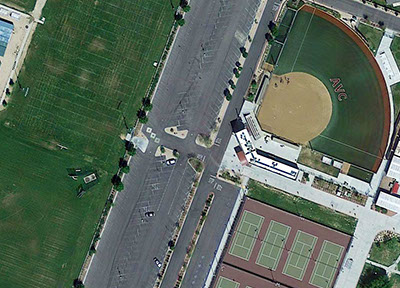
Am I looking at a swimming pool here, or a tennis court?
tennis court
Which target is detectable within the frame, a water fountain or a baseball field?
baseball field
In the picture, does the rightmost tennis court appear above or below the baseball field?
below it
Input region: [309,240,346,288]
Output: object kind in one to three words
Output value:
tennis court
